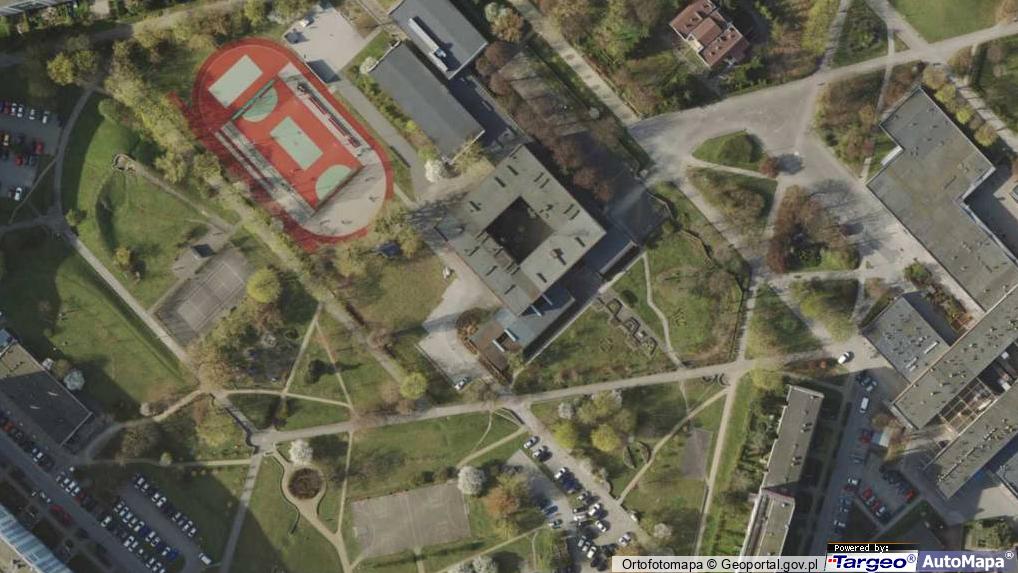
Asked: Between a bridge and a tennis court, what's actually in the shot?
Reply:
tennis court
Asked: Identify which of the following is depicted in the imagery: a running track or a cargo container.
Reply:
running track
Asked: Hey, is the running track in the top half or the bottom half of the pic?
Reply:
top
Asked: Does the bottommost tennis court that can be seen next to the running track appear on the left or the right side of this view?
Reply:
left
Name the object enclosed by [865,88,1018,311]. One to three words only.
building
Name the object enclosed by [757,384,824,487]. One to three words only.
building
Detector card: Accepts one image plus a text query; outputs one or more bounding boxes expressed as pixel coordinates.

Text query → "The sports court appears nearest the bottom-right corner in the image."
[681,430,712,479]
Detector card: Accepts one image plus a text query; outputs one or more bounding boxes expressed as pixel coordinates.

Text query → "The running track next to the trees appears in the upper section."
[168,36,395,249]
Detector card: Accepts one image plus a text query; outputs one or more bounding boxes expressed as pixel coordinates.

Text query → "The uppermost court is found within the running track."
[208,55,262,107]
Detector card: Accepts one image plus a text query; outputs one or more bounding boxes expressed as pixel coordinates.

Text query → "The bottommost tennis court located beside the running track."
[154,247,260,345]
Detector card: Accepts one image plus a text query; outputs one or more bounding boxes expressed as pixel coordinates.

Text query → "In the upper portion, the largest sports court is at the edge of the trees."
[215,63,385,236]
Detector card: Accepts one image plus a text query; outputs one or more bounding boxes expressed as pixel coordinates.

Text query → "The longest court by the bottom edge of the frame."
[352,482,471,558]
